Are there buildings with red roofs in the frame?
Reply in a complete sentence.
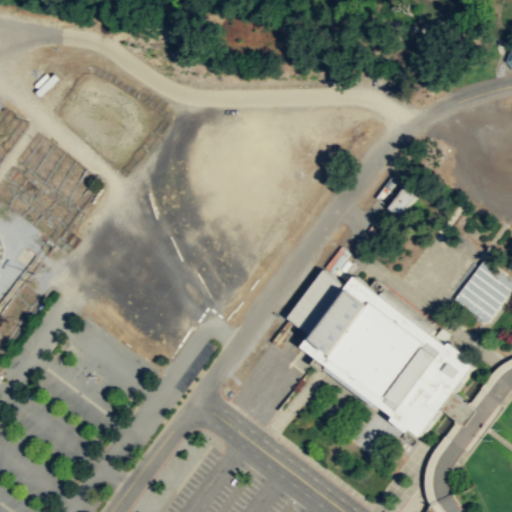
No, there appears to be no building with a red roof in this shot.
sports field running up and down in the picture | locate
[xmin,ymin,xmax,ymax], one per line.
[466,406,512,512]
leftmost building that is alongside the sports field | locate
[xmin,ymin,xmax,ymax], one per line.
[300,276,474,438]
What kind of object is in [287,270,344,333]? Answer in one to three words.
shed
